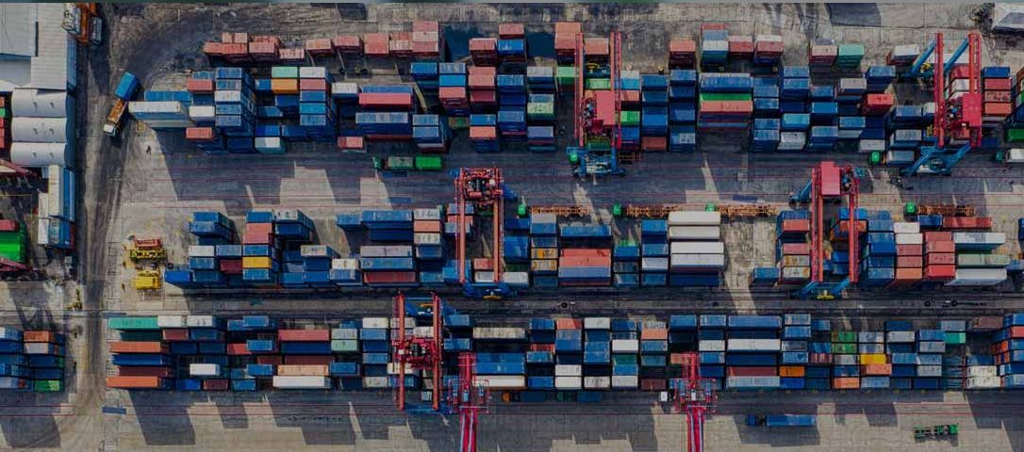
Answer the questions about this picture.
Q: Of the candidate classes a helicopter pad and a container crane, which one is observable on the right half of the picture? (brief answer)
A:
container crane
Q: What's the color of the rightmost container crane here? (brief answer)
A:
red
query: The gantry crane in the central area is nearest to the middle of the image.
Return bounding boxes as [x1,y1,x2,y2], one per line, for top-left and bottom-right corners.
[455,168,516,299]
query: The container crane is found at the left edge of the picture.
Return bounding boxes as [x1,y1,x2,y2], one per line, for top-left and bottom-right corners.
[0,149,44,276]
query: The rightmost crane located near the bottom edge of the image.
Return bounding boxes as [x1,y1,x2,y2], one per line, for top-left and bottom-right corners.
[672,352,715,452]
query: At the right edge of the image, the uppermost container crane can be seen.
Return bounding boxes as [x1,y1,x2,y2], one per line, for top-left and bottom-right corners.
[903,36,980,175]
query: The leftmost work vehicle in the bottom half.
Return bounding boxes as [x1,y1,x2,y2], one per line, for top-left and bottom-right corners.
[138,271,163,299]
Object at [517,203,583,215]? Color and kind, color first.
green vehicle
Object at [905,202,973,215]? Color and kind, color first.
green vehicle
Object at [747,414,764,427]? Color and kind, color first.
blue vehicle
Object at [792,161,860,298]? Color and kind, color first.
red container crane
